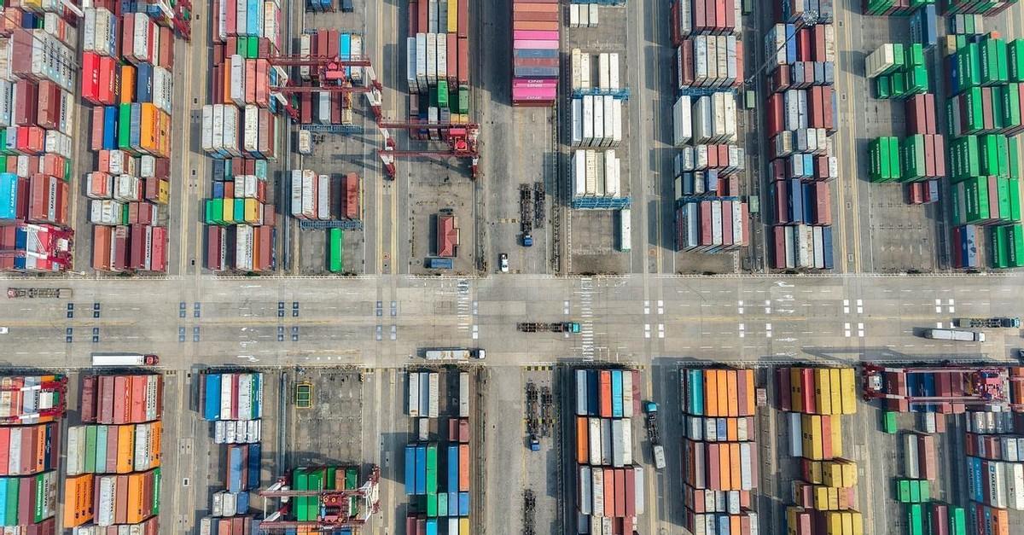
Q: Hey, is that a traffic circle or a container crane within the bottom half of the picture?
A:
container crane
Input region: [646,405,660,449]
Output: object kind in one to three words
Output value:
vehicle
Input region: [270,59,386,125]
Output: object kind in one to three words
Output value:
container crane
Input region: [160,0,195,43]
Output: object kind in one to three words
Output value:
container crane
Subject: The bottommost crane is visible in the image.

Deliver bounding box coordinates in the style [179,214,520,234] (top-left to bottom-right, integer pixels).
[258,464,381,528]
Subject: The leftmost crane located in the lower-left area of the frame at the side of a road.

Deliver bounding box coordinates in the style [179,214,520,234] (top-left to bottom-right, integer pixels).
[0,373,69,422]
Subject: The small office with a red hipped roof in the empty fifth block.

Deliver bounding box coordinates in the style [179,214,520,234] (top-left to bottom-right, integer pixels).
[437,215,460,257]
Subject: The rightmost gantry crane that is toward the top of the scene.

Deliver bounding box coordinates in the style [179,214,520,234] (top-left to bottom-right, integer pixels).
[377,120,479,183]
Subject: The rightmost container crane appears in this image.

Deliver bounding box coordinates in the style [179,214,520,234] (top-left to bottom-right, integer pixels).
[960,373,1024,408]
